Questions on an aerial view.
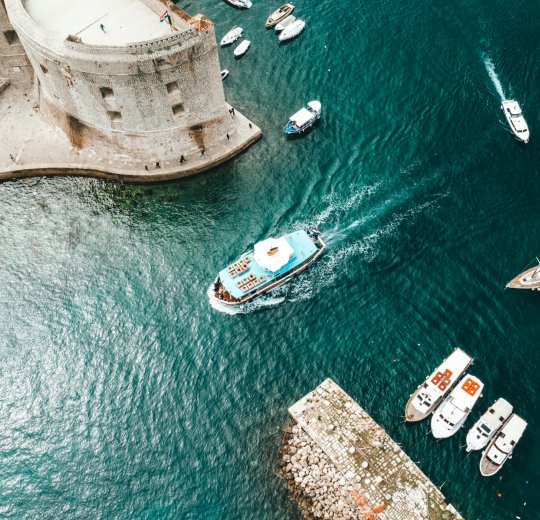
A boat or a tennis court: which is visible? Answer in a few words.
boat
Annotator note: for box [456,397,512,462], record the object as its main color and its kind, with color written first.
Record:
white boat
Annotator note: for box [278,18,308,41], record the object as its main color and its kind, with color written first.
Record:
white boat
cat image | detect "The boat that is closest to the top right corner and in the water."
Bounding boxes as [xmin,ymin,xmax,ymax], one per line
[499,96,532,141]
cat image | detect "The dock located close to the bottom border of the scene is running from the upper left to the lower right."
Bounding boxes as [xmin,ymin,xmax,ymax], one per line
[288,378,467,520]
